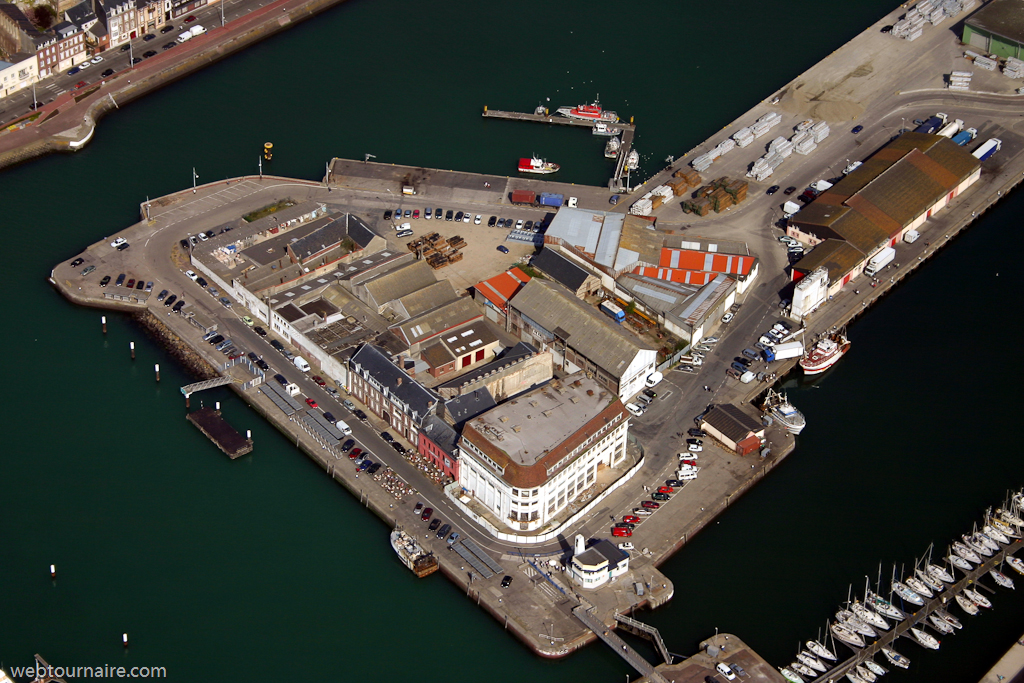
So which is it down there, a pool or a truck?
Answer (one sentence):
This aerial view contains a truck.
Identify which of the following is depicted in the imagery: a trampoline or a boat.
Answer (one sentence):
There is a boat in the scene.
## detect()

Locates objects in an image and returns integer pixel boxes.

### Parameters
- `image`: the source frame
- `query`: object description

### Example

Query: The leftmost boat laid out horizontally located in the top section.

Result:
[518,155,562,174]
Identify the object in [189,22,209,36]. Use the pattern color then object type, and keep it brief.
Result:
white vehicle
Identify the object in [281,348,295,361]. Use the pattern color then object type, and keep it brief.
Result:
gray vehicle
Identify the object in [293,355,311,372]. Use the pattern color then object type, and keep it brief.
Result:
white vehicle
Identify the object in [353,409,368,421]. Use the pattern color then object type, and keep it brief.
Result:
black vehicle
